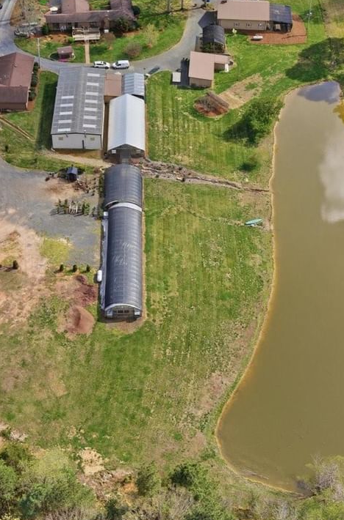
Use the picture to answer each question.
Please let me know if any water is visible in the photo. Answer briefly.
Yes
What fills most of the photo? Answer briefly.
grass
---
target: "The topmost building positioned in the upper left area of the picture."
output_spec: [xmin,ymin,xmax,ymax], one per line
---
[44,0,136,45]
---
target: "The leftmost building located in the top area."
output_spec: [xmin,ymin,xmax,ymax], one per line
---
[0,50,34,110]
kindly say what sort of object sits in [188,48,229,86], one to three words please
shed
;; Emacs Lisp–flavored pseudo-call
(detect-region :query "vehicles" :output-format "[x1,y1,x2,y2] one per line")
[92,60,110,68]
[112,60,131,70]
